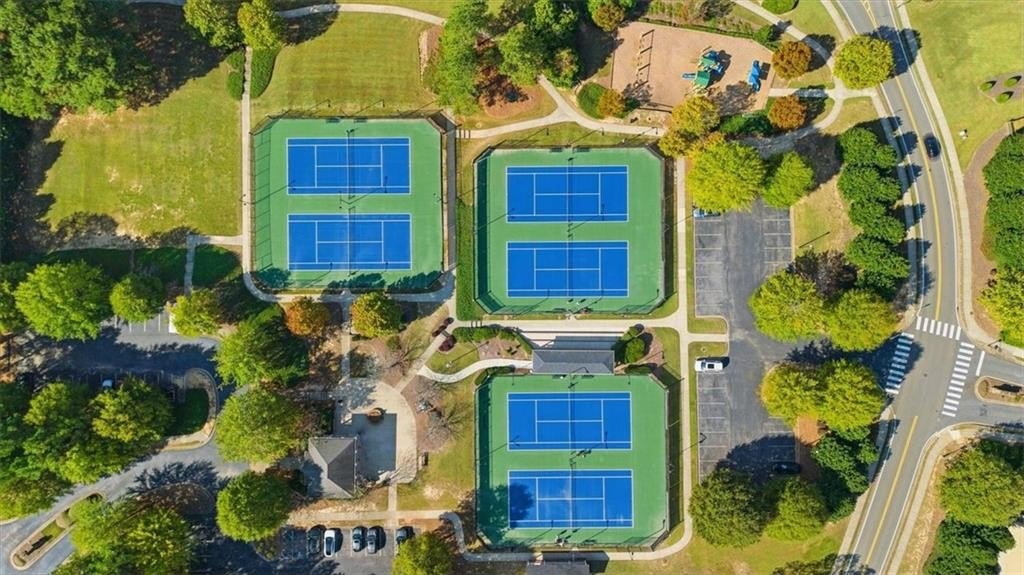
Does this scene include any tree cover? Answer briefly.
Yes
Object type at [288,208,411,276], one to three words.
tennis court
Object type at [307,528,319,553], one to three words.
vehicle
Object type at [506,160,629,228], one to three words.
tennis court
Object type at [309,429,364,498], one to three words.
building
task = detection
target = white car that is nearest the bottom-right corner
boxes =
[696,359,723,371]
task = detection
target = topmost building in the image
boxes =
[532,347,615,374]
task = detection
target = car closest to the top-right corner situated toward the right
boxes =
[924,134,942,159]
